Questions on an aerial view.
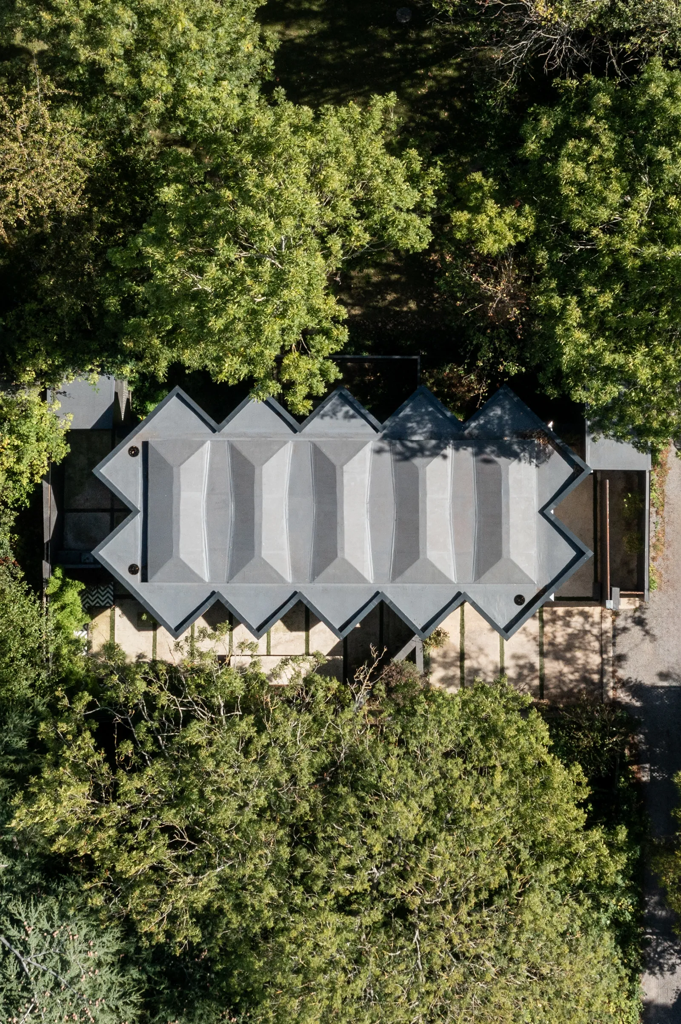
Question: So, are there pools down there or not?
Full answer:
No, the scene contains no pool.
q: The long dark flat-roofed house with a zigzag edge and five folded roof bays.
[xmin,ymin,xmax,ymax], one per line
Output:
[91,385,593,640]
